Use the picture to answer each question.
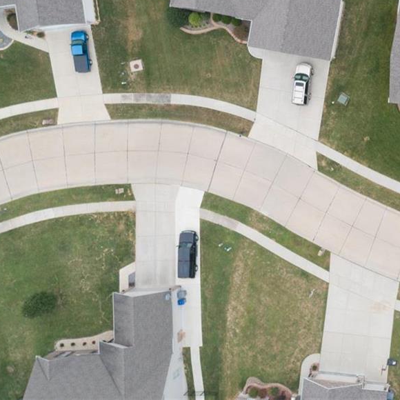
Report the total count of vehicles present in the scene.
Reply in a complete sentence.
The photo contains 3 vehicles.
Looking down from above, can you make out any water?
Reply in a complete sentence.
No, there is no water in the image.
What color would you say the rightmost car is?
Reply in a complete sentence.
The color of the rightmost car is white.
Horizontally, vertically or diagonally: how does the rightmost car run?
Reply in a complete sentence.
Seen from above, the rightmost car lies vertically.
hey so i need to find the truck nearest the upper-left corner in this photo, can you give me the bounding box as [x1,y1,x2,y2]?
[70,30,95,73]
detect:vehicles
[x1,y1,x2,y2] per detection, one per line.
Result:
[70,30,95,73]
[291,64,314,107]
[177,231,199,278]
